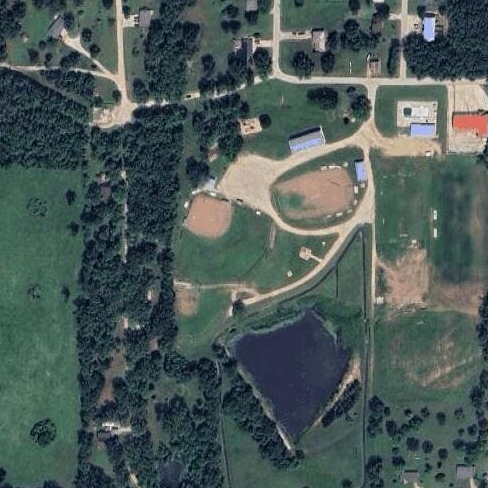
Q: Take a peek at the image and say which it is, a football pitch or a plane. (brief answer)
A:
football pitch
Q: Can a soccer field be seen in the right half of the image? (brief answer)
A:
Yes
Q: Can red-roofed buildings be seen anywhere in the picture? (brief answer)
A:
Yes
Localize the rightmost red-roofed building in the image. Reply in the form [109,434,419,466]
[452,116,488,139]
